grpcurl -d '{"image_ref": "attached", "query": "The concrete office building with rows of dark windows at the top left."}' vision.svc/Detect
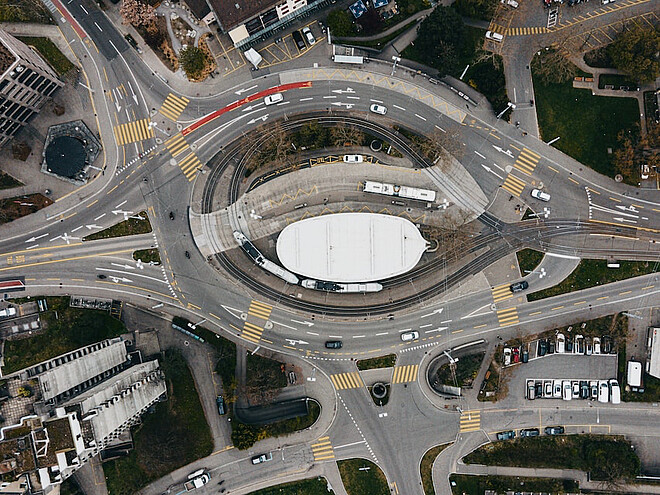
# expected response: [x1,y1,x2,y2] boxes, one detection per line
[0,15,64,151]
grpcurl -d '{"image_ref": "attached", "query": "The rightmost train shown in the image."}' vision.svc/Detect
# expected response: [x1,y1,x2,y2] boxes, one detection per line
[300,279,385,293]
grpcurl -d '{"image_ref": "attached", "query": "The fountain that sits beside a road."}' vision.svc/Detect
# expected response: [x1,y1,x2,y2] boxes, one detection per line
[39,119,102,184]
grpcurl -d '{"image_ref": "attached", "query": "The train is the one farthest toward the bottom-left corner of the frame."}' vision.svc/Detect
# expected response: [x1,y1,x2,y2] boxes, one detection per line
[229,231,298,285]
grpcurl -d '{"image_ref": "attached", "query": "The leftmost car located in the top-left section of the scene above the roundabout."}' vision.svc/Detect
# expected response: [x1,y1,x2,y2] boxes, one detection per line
[124,34,141,53]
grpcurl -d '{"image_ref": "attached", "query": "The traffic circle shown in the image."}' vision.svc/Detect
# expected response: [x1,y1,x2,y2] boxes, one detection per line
[118,81,590,359]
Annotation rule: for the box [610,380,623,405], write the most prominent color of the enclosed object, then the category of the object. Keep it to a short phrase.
white vehicle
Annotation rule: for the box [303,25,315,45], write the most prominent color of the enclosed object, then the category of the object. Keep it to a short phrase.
white vehicle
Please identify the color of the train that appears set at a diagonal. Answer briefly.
white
